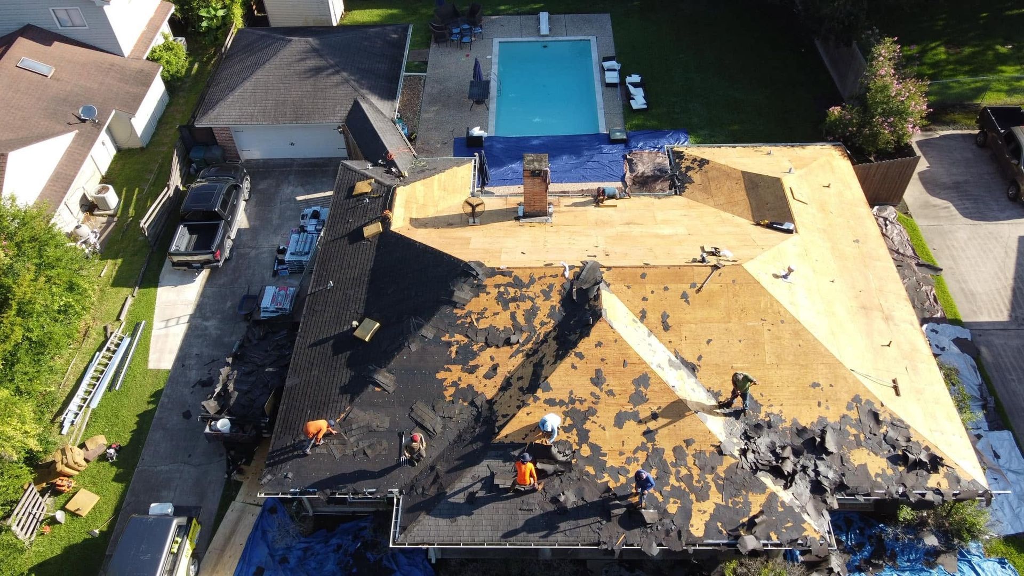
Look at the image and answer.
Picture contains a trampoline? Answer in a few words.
No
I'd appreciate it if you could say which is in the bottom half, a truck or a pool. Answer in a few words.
truck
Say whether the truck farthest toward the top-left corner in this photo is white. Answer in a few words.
No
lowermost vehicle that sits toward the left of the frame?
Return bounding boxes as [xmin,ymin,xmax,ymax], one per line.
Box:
[84,510,202,576]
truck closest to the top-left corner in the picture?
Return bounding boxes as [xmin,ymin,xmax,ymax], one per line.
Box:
[165,158,249,273]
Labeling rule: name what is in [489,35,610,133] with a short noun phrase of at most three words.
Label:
swimming pool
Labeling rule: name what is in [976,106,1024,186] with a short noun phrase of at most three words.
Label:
truck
